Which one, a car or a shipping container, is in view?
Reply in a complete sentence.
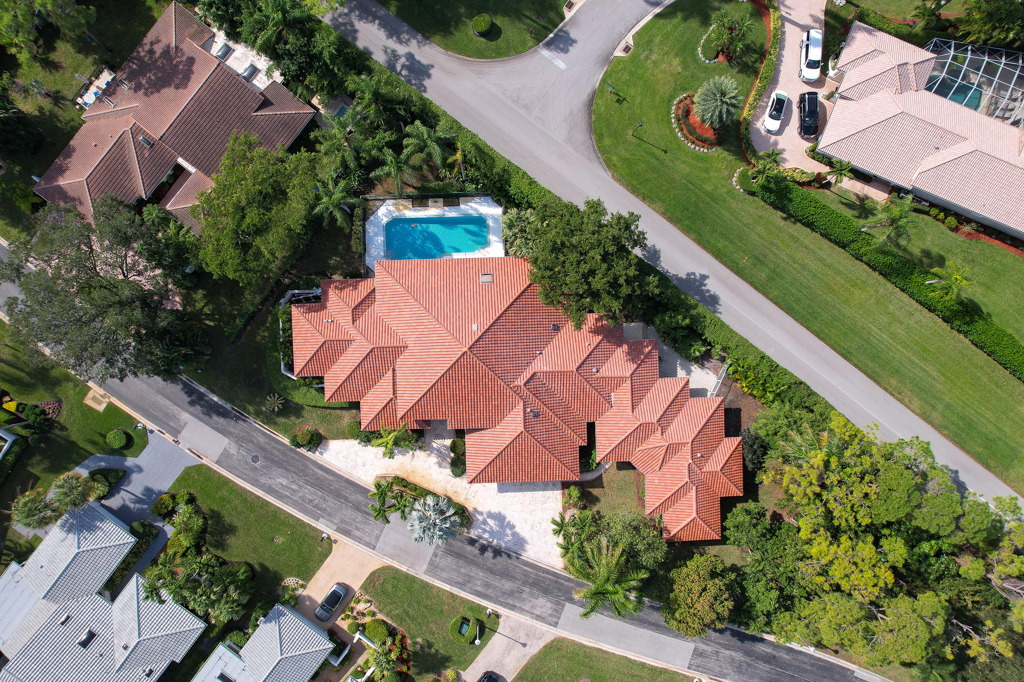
Visible in the photo is a car.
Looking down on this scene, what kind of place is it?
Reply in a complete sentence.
The picture captures a residential area.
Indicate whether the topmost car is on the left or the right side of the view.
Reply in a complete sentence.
The topmost car sits on the right side.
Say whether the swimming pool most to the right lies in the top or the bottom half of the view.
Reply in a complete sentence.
The swimming pool most to the right is in the top half of the image.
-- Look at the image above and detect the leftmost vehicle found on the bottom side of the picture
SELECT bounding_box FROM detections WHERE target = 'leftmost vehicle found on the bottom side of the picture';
[313,577,350,626]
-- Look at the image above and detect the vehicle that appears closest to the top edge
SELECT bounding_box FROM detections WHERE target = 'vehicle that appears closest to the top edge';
[796,27,825,84]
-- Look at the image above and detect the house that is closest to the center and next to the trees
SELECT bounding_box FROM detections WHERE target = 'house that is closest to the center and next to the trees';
[290,256,745,543]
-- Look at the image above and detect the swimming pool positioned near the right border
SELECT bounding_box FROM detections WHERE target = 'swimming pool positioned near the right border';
[926,71,985,108]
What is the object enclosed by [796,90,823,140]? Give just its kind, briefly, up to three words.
car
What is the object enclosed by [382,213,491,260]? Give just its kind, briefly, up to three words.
swimming pool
